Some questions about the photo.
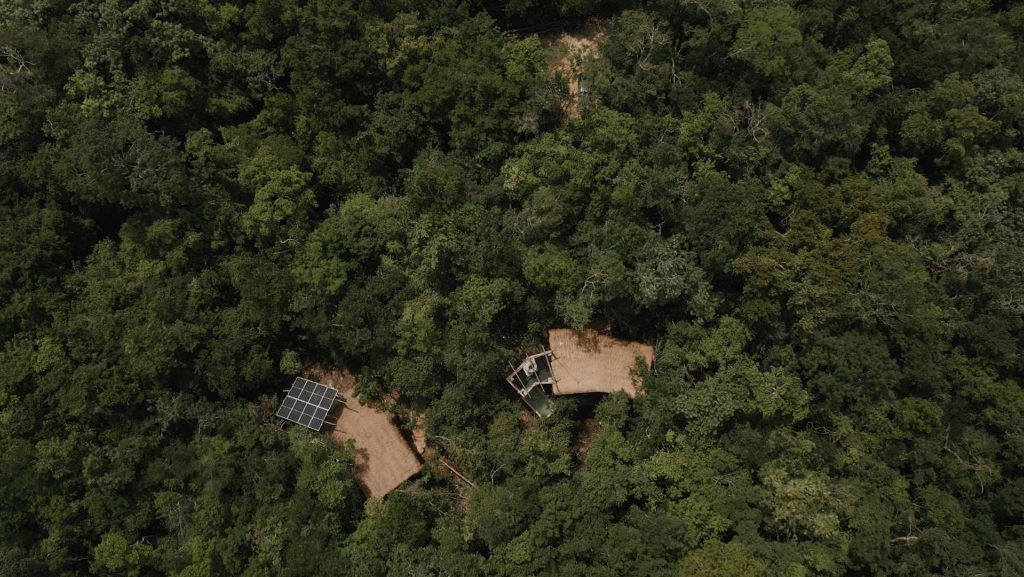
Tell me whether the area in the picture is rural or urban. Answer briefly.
rural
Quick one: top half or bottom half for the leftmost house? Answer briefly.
bottom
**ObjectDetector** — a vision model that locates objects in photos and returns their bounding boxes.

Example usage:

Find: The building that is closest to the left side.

[320,393,426,499]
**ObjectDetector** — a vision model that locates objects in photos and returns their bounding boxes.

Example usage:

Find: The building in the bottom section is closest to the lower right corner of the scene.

[549,327,654,403]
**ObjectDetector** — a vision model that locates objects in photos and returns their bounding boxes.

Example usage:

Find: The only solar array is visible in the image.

[276,377,346,435]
